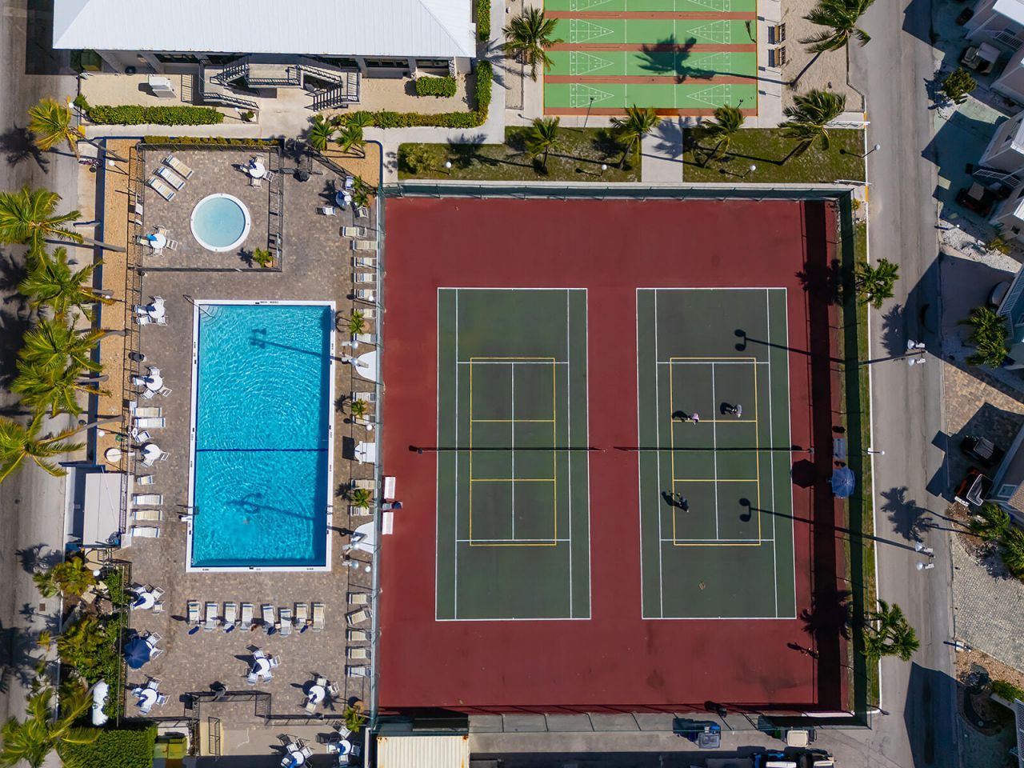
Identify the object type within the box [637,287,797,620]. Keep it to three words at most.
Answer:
tennis court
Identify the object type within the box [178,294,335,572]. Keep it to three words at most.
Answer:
swimming pool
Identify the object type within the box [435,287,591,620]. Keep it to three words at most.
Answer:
tennis court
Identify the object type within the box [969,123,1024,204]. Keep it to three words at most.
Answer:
house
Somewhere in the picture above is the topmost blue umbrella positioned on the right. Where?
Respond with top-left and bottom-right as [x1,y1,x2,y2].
[825,467,855,496]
